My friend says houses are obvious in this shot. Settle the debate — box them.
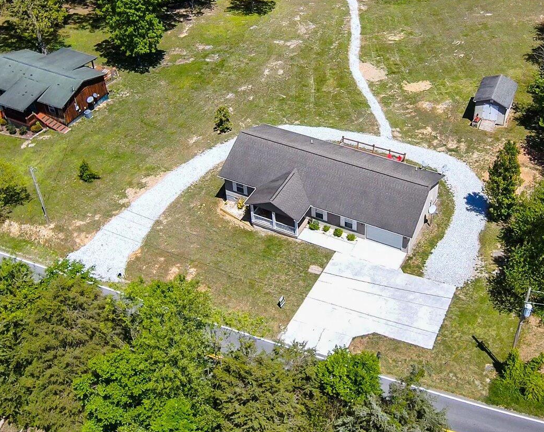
[217,124,444,252]
[0,49,108,132]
